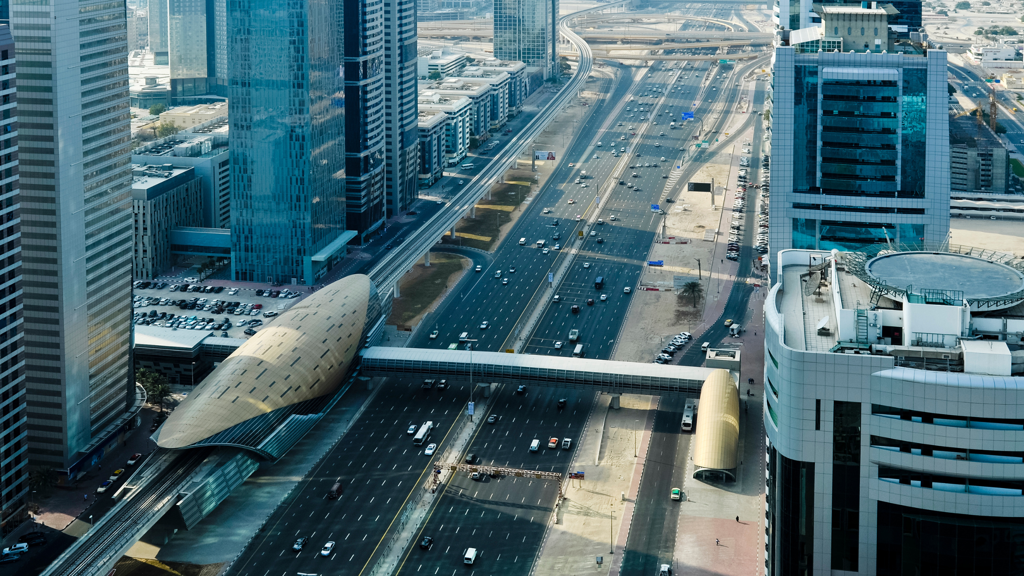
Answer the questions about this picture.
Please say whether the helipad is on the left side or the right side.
right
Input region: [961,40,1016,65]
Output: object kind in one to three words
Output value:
building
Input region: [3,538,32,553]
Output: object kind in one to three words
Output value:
car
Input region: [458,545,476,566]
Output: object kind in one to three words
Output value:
vehicle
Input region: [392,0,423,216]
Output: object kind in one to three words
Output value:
building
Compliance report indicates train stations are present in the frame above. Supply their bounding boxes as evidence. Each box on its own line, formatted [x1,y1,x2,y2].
[108,263,419,531]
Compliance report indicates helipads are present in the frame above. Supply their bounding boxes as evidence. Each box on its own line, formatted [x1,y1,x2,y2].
[843,236,1024,342]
